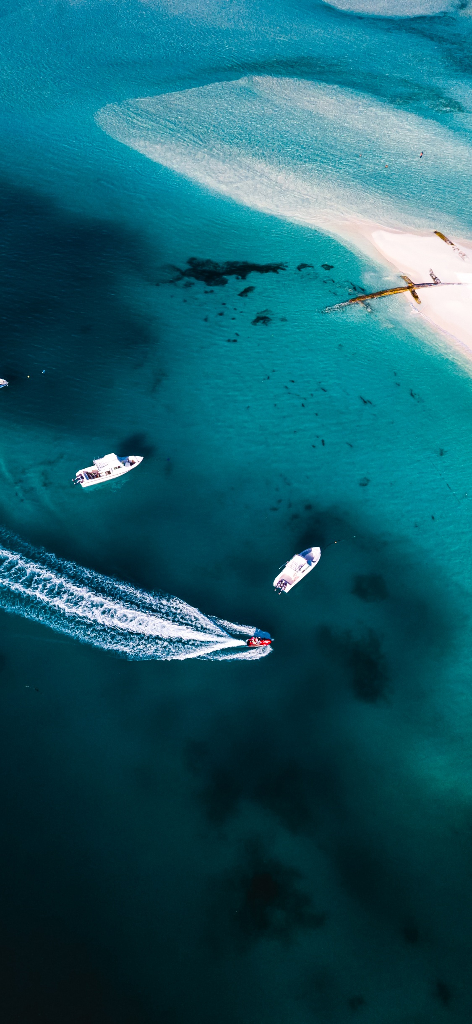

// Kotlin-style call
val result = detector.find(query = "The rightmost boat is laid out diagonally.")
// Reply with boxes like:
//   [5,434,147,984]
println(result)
[272,546,322,596]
